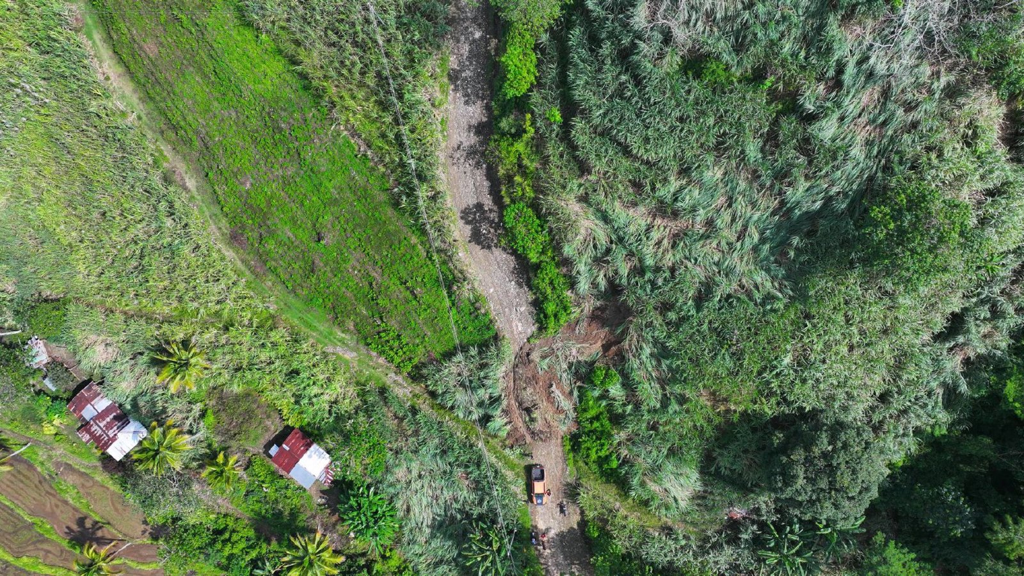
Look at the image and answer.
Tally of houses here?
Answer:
two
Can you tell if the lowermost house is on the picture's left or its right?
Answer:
left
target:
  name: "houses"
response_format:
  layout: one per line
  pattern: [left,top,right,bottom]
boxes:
[70,381,149,461]
[273,427,337,488]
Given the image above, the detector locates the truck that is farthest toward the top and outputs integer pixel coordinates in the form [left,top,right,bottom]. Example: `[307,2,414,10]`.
[530,464,552,504]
